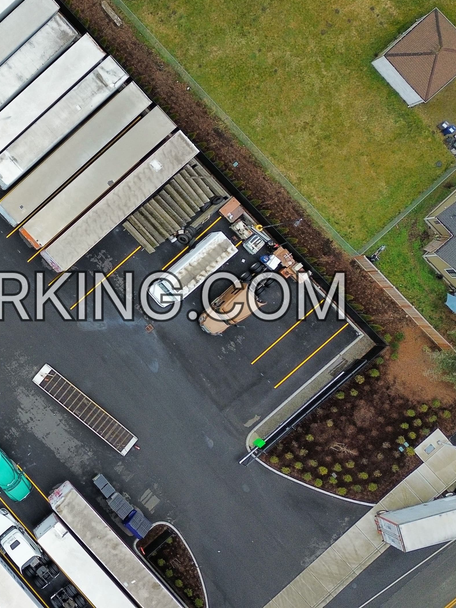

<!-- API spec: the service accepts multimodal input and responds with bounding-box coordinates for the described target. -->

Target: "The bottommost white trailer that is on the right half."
[372,494,456,553]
